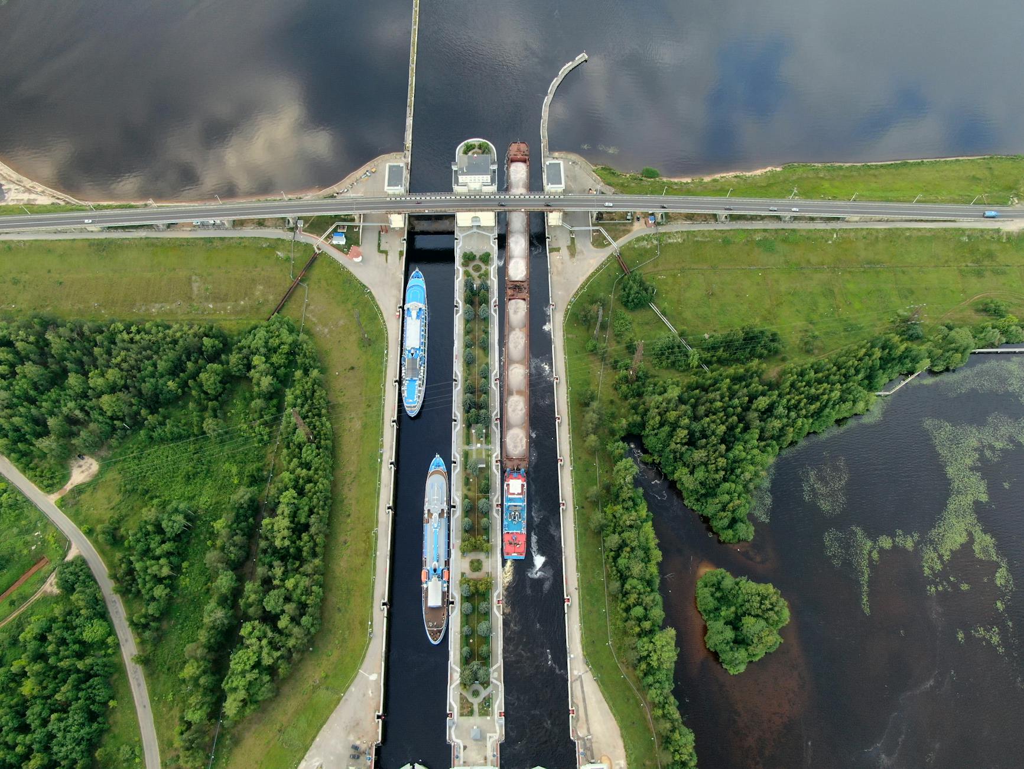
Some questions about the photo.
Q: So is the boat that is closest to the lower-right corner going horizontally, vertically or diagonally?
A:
vertically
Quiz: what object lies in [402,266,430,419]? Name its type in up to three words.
ship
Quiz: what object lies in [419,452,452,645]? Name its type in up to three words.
ship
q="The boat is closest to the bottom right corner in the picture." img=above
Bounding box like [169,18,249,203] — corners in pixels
[503,468,526,559]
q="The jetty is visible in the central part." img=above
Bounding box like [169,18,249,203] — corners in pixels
[447,138,505,769]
